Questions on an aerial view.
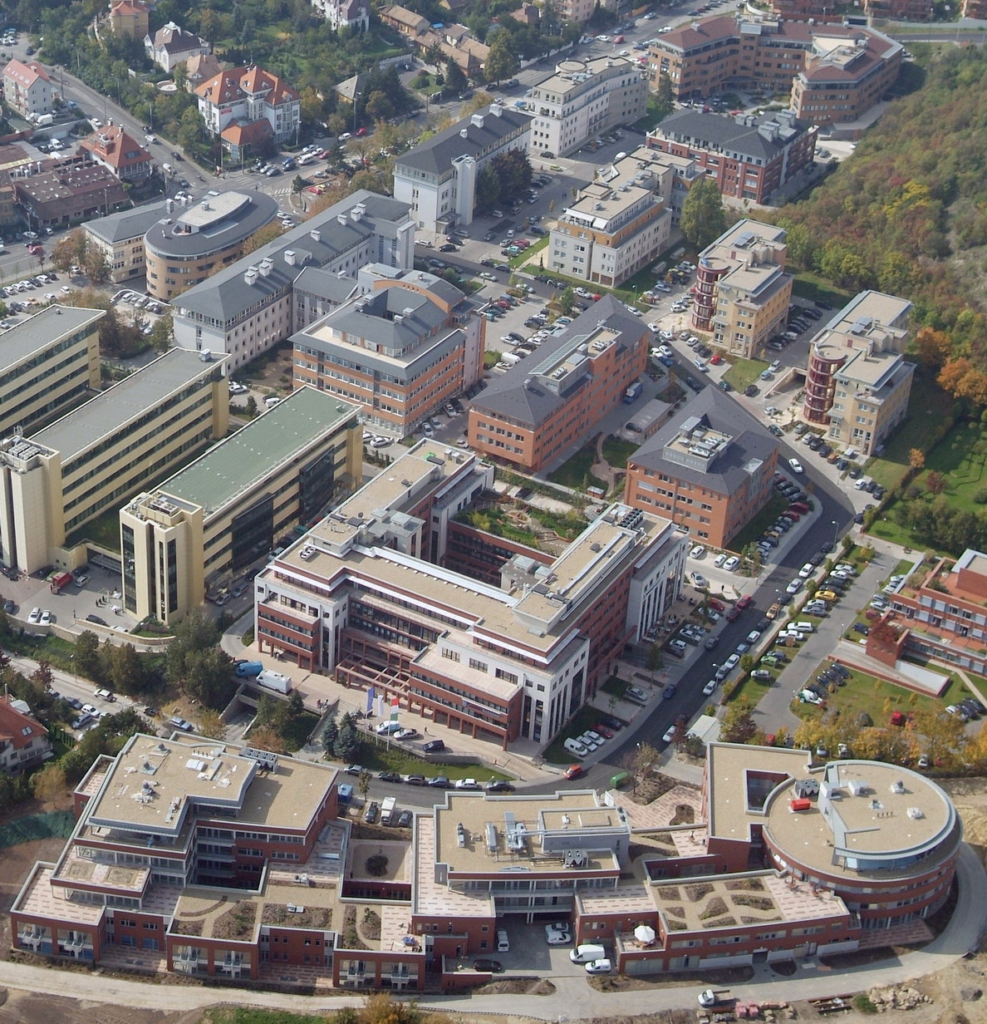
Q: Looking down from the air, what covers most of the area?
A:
buildings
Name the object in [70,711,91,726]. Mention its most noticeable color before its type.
gray car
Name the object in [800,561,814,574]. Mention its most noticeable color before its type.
white vehicle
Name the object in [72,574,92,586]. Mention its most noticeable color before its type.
gray vehicle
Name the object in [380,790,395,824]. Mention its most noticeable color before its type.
white vehicle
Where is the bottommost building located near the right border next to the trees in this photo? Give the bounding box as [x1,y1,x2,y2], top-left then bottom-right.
[641,742,964,967]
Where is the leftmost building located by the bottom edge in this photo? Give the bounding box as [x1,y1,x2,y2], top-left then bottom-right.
[11,731,426,984]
